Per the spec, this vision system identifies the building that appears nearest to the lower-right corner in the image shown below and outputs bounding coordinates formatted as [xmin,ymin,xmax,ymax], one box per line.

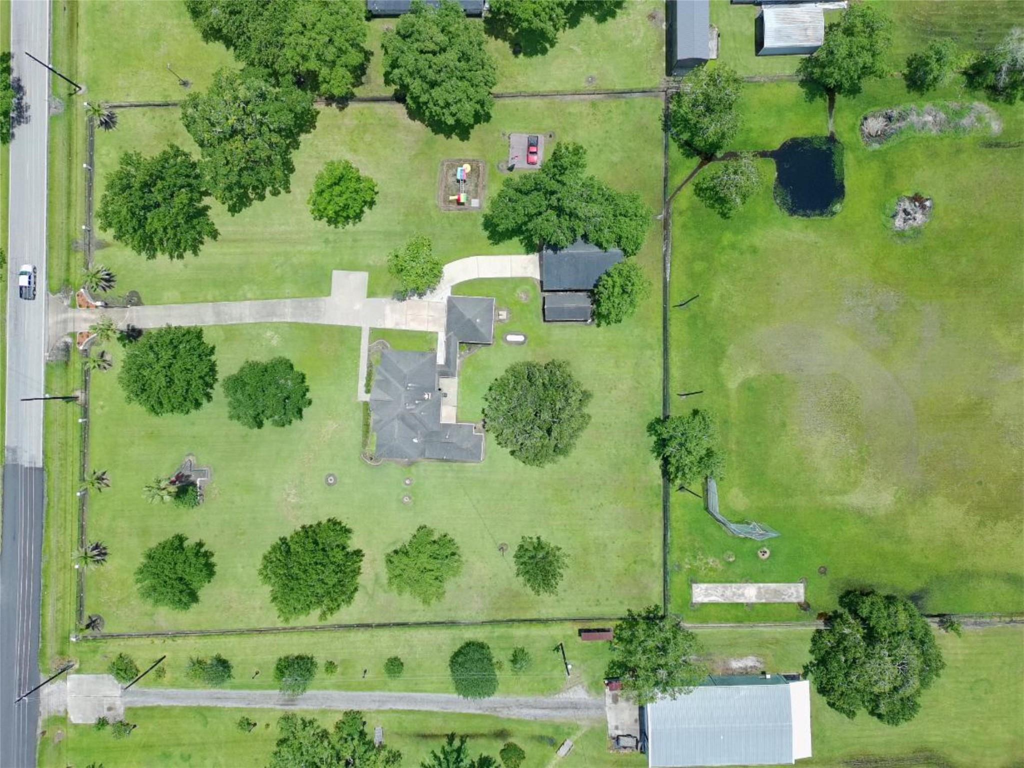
[642,672,811,768]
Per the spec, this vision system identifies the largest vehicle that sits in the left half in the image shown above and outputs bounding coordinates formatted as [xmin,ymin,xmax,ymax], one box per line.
[18,264,38,301]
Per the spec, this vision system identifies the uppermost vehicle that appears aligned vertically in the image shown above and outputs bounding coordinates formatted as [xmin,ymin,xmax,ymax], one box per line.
[526,134,540,165]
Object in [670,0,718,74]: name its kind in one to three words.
barn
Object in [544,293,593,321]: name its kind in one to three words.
shed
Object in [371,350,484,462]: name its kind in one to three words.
house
